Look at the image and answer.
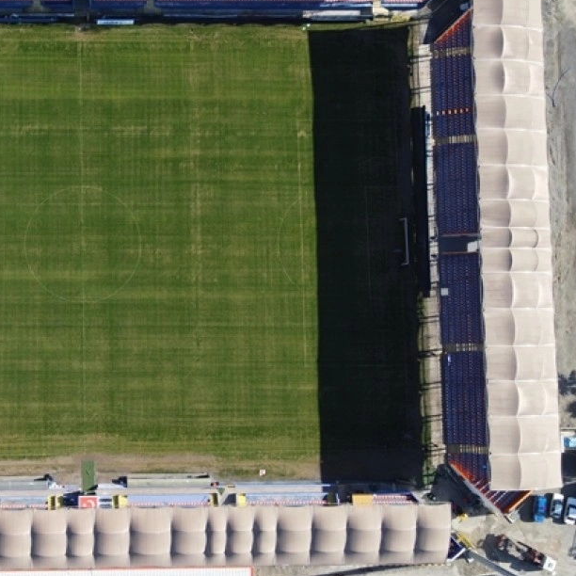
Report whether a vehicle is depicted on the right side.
Yes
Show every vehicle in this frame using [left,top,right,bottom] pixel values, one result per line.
[533,495,548,521]
[501,535,563,576]
[548,491,564,518]
[562,496,576,523]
